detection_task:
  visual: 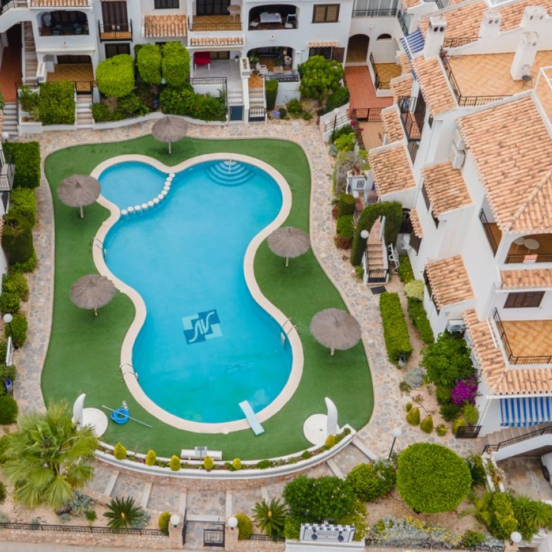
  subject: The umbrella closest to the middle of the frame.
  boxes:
[262,219,317,266]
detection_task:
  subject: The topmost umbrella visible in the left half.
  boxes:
[145,110,193,154]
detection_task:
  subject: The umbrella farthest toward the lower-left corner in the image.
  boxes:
[65,266,119,316]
